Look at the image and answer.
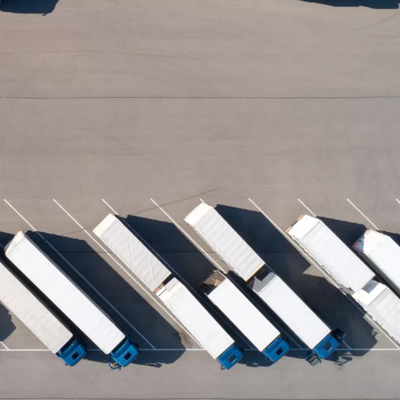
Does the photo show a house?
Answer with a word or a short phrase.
No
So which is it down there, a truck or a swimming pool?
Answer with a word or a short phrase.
truck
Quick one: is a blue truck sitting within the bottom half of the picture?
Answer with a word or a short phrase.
Yes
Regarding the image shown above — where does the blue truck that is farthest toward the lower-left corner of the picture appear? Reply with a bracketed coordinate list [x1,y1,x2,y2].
[54,323,89,366]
